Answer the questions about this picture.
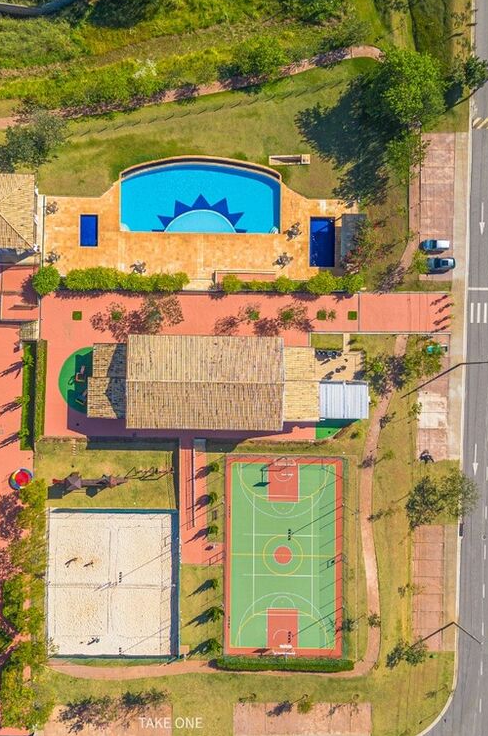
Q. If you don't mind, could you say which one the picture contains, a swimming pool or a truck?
swimming pool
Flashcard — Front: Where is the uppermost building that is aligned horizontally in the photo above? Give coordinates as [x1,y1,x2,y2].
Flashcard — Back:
[87,335,319,430]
